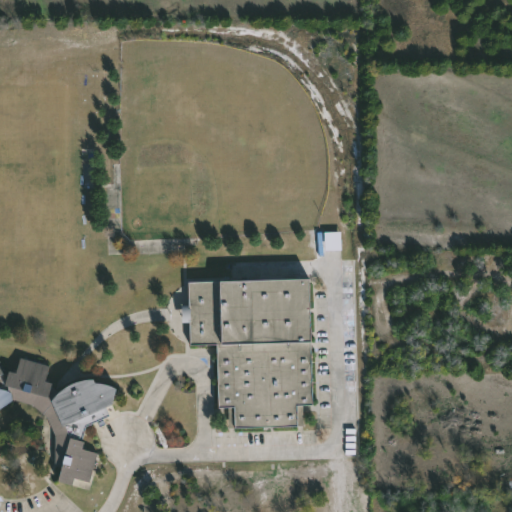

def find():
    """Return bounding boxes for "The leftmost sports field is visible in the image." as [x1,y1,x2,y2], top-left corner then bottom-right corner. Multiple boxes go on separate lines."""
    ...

[0,82,67,324]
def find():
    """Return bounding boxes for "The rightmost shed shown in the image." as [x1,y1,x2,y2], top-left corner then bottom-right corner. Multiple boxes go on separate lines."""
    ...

[318,232,342,256]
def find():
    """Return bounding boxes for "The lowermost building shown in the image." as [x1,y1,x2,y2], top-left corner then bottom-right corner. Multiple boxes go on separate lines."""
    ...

[59,439,97,490]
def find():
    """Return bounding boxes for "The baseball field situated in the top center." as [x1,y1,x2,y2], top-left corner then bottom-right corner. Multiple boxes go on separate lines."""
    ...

[121,41,328,238]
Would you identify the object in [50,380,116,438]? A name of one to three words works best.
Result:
building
